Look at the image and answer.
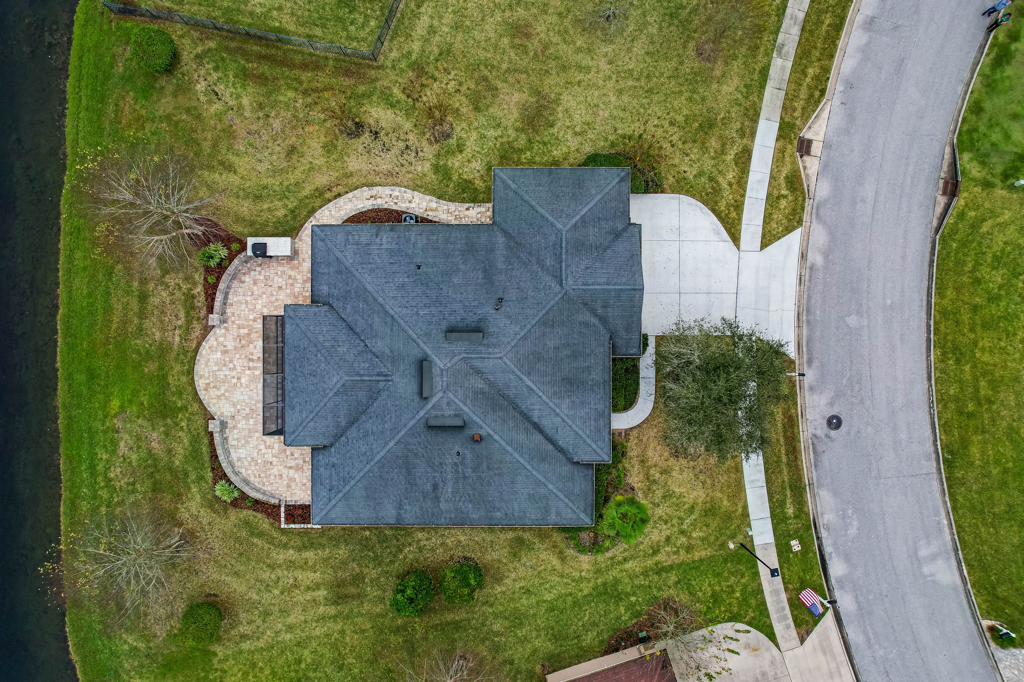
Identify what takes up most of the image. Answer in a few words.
grass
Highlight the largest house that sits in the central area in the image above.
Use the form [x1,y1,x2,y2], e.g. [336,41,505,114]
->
[283,167,645,526]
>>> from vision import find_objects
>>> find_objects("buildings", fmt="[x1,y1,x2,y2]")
[547,644,680,682]
[283,167,645,526]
